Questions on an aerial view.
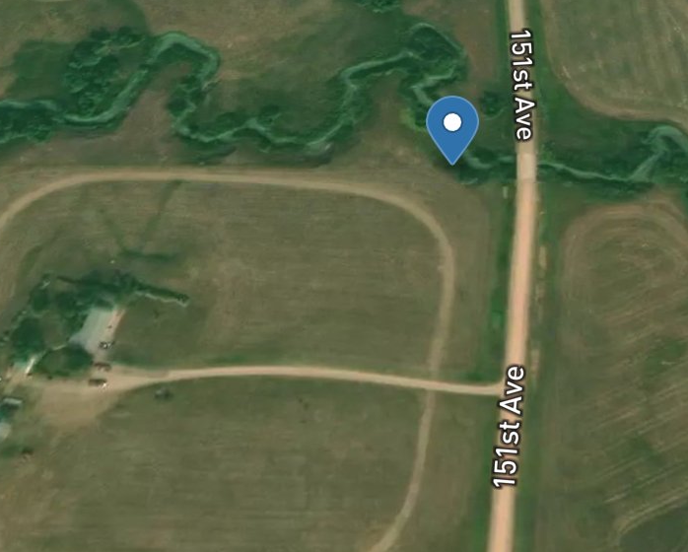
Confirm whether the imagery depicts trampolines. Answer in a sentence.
No, no trampoline is visible in the view.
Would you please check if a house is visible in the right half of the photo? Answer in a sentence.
No, there's no house to be seen in the right half of the photo.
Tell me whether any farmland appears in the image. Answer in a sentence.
Yes, the picture does contain farmland.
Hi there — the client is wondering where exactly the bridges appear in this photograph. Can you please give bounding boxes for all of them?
[516,150,538,180]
